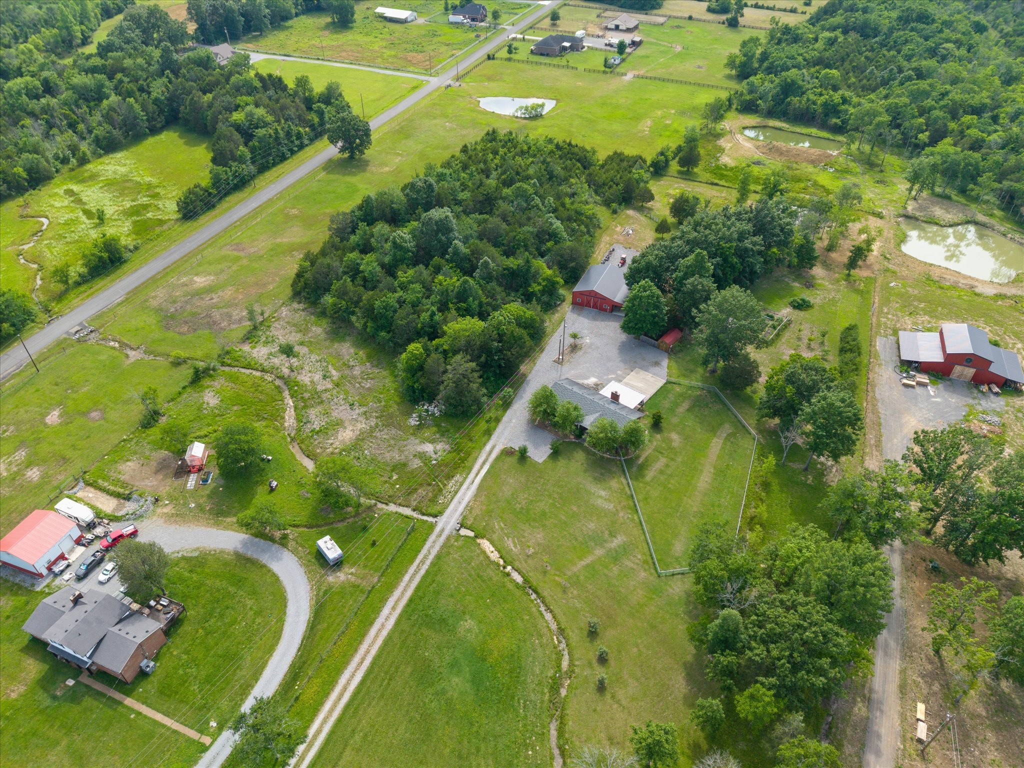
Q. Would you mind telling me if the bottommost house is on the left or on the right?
left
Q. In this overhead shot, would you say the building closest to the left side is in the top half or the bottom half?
bottom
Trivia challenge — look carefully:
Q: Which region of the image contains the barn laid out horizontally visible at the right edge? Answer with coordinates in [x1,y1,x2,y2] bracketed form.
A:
[895,323,1024,393]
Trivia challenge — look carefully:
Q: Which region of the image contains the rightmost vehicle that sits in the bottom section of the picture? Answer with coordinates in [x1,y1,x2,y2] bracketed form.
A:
[317,535,345,570]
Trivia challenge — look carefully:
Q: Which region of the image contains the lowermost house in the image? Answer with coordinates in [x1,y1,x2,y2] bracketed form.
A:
[20,585,167,686]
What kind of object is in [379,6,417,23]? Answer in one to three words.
barn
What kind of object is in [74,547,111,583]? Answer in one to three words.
truck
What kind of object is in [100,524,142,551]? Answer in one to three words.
truck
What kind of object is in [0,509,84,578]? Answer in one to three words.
building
